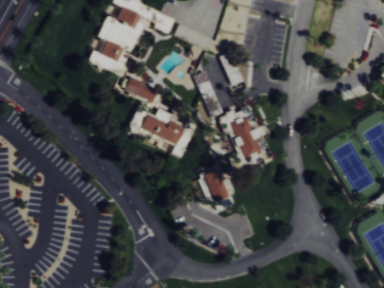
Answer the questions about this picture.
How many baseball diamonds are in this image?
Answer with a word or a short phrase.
0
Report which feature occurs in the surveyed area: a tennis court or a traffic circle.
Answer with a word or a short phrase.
tennis court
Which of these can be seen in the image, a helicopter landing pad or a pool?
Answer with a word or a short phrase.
pool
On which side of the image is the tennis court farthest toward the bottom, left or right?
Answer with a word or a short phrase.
right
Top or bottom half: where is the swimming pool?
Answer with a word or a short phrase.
top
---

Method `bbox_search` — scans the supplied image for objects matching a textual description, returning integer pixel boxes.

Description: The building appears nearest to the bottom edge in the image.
[196,172,235,205]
